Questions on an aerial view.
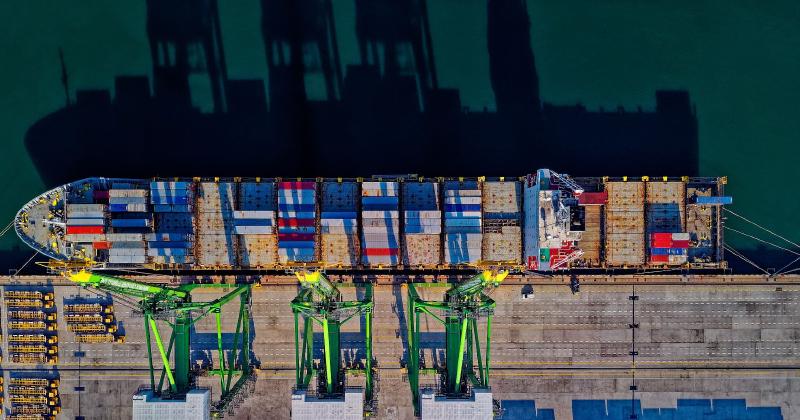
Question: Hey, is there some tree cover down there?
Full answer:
No, there's no tree cover in this view.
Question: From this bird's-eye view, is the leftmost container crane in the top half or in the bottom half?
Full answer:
The leftmost container crane sits in the bottom half of the picture.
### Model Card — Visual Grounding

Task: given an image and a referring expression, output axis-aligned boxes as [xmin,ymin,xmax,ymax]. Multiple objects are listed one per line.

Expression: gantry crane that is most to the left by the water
[44,258,260,420]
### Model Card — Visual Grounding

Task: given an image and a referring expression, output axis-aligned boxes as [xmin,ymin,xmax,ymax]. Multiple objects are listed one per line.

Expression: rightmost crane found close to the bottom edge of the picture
[395,258,531,420]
